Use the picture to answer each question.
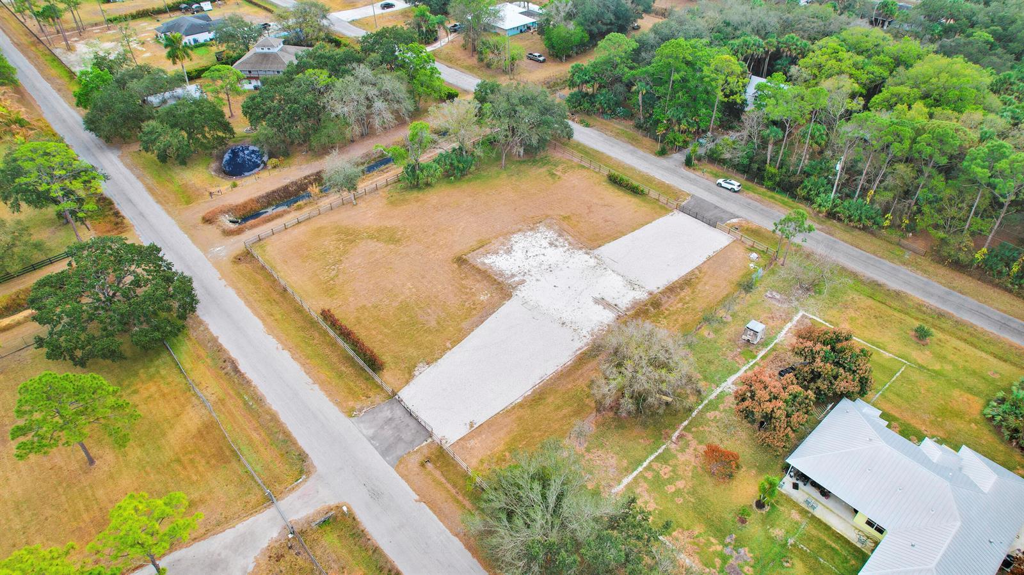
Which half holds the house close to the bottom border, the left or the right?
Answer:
right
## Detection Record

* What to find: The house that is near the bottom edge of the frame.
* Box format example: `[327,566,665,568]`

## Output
[785,397,1024,575]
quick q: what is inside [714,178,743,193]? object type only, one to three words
car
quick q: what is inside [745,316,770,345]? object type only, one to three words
shed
